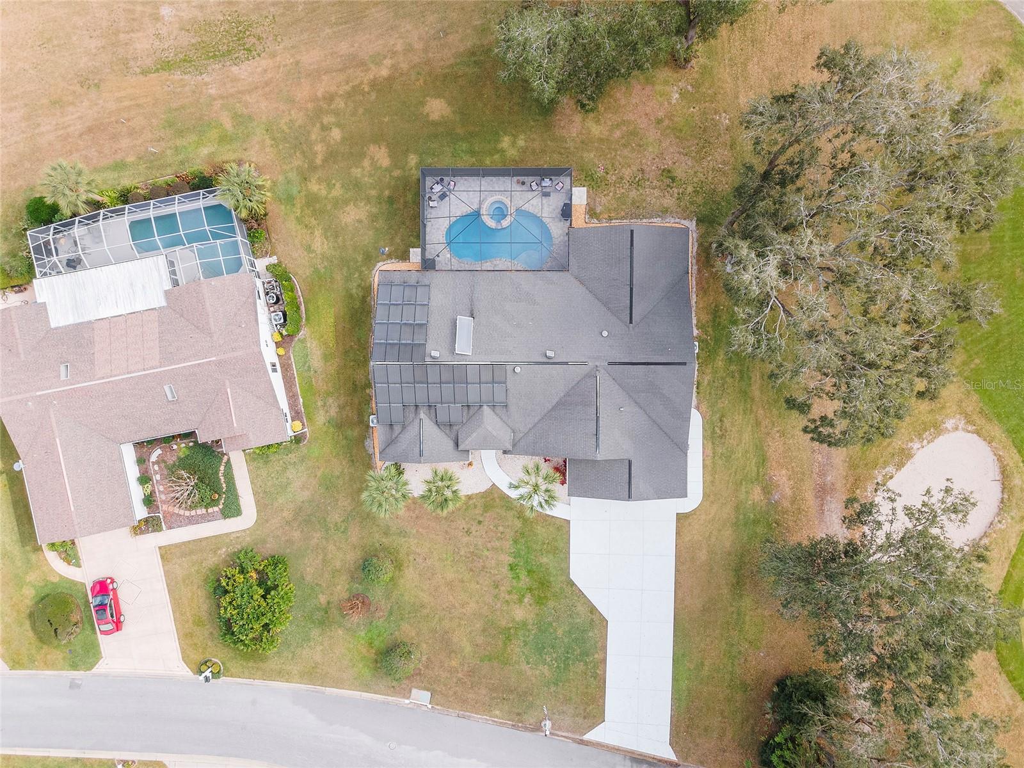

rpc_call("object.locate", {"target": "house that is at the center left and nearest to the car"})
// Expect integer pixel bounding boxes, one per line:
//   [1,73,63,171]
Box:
[0,252,293,544]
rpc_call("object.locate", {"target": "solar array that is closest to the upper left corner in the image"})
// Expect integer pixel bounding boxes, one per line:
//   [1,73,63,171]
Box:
[95,316,160,379]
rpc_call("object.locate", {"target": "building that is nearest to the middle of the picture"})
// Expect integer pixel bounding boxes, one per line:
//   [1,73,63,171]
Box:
[370,223,696,501]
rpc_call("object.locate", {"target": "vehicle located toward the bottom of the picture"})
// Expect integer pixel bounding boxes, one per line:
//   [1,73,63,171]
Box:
[90,576,126,637]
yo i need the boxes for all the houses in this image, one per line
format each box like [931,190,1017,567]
[0,252,293,544]
[370,223,696,501]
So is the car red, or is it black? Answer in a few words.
red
